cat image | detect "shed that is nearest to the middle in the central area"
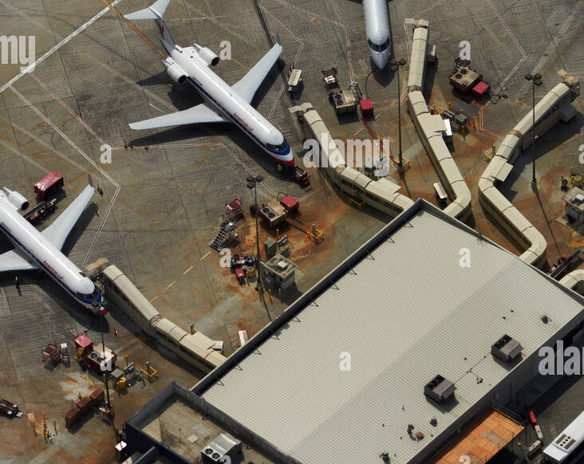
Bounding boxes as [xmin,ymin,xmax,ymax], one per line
[262,252,301,295]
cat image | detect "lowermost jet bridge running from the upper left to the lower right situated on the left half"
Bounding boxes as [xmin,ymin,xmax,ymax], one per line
[84,257,226,381]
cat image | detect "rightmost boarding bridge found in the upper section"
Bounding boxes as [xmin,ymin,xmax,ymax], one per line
[478,70,583,272]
